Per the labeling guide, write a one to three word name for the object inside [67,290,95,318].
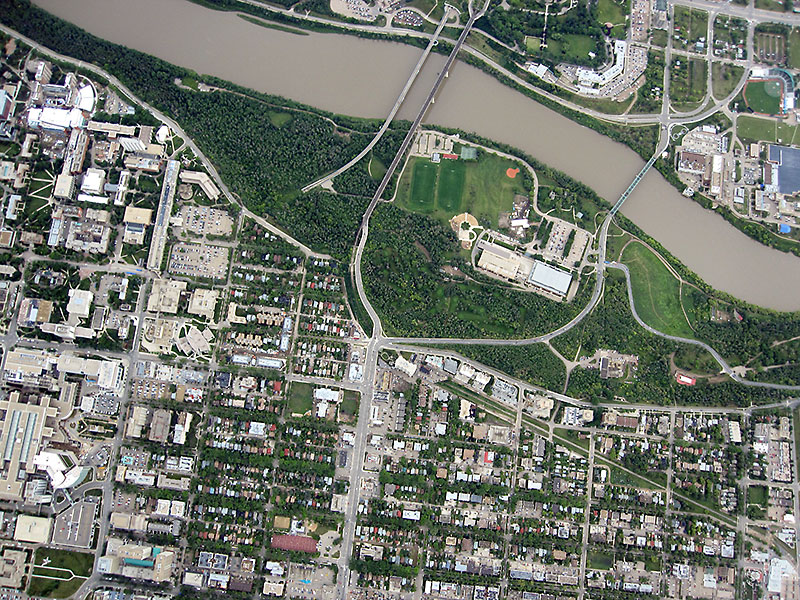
building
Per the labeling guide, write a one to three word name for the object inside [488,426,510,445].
building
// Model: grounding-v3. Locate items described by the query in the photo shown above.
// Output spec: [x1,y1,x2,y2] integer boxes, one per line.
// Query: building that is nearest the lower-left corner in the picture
[0,549,30,588]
